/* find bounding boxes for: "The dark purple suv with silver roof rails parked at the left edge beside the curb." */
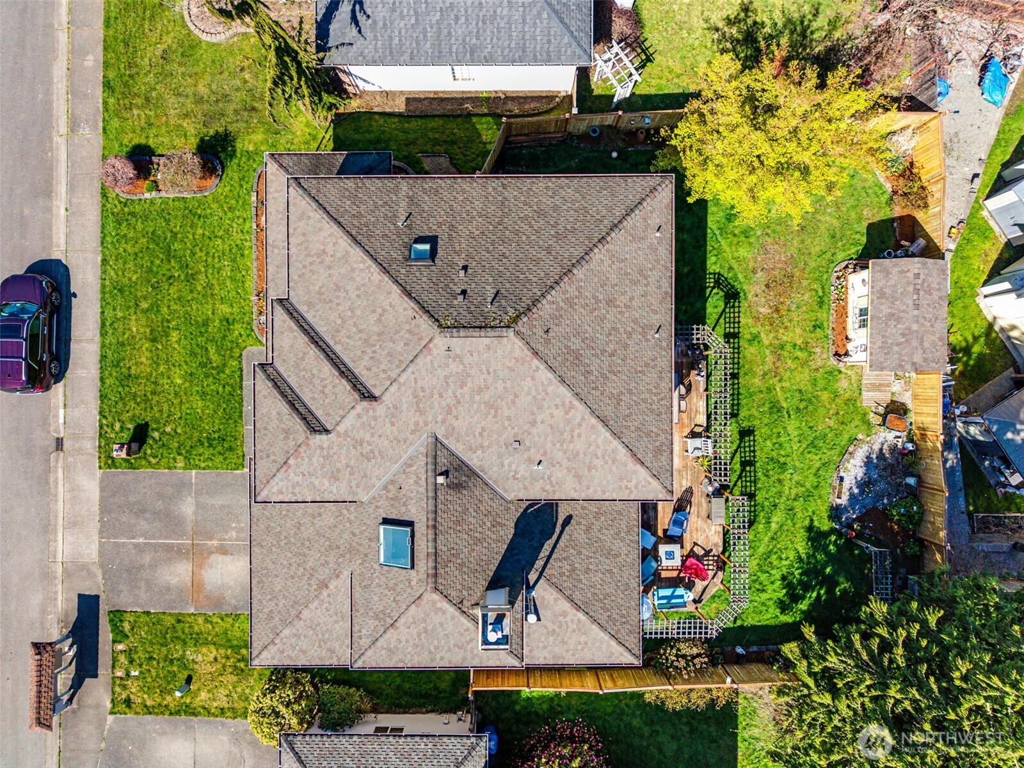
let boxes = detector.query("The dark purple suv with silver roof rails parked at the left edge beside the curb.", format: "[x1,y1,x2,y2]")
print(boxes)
[0,274,61,394]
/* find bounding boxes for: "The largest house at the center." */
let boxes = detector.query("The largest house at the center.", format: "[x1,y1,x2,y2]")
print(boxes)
[248,151,675,671]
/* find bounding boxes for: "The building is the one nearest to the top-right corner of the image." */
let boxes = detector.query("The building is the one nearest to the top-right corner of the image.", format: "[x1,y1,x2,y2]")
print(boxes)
[984,177,1024,239]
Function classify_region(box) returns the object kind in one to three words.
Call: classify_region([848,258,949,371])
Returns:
shed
